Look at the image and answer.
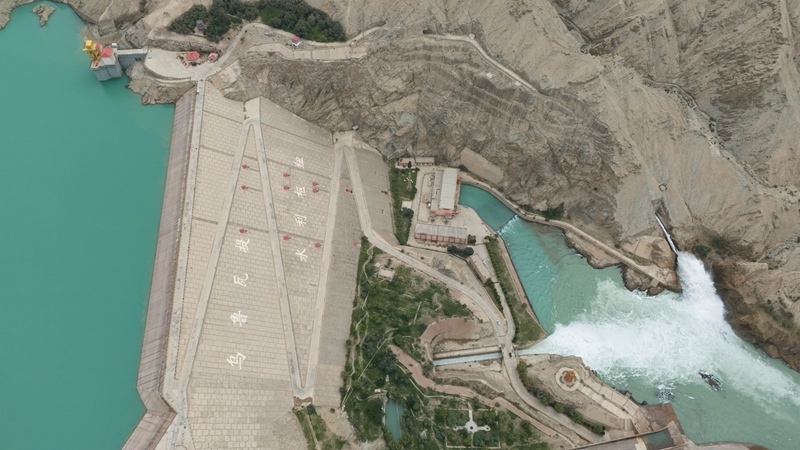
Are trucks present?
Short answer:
No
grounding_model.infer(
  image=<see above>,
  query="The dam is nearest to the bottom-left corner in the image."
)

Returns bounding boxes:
[123,80,398,450]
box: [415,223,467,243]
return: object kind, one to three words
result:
building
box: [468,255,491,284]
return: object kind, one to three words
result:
building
